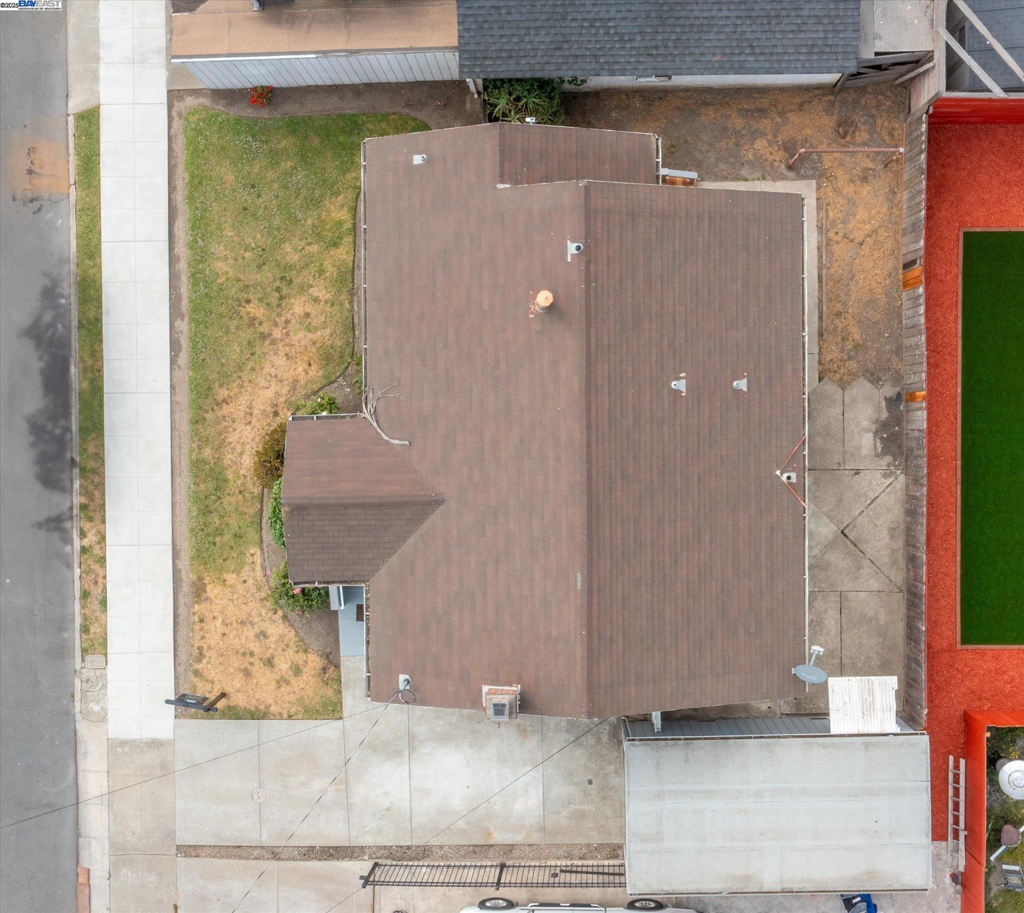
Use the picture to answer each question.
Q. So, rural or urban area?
urban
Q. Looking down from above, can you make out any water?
No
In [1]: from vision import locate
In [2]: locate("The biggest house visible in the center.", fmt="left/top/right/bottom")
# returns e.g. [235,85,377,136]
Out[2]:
[282,121,811,719]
